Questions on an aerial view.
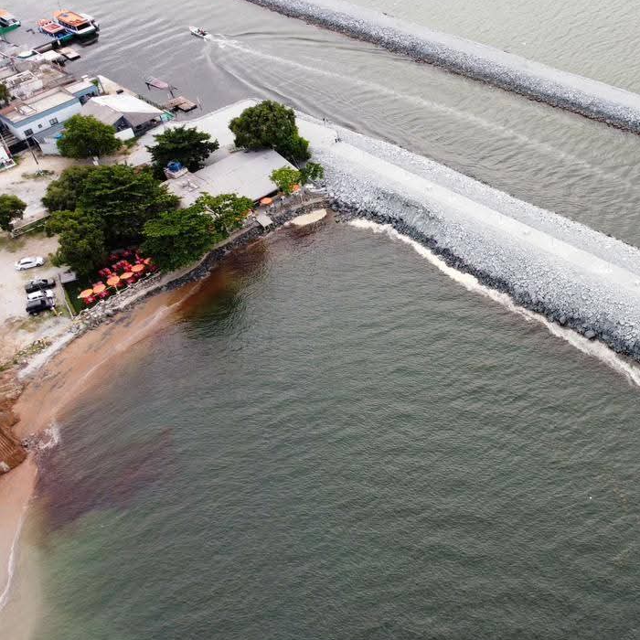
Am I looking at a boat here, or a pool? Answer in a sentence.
This aerial view contains a boat.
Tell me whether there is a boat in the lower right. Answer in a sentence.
No, in the lower right there is no boat.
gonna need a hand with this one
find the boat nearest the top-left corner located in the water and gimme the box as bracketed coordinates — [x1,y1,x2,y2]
[0,17,22,34]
